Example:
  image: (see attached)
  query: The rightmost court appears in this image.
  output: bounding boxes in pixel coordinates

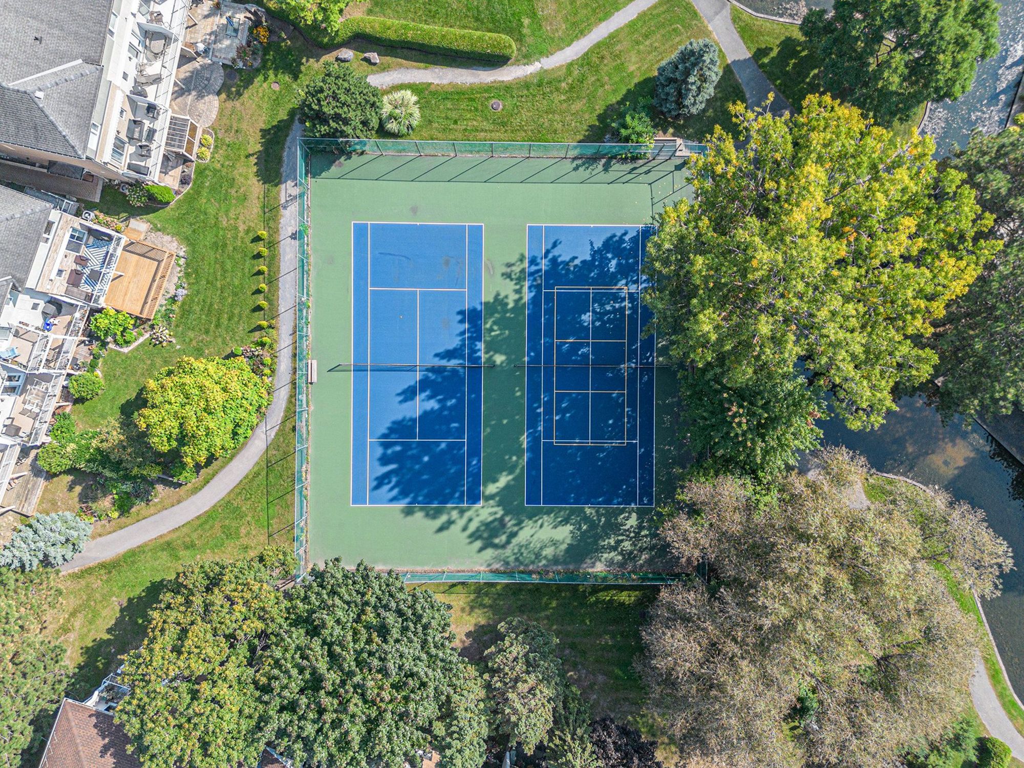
[525,224,657,507]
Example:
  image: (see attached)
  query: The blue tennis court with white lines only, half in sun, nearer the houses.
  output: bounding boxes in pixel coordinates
[351,222,484,506]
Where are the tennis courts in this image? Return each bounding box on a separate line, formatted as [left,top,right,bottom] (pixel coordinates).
[351,222,484,506]
[525,224,657,507]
